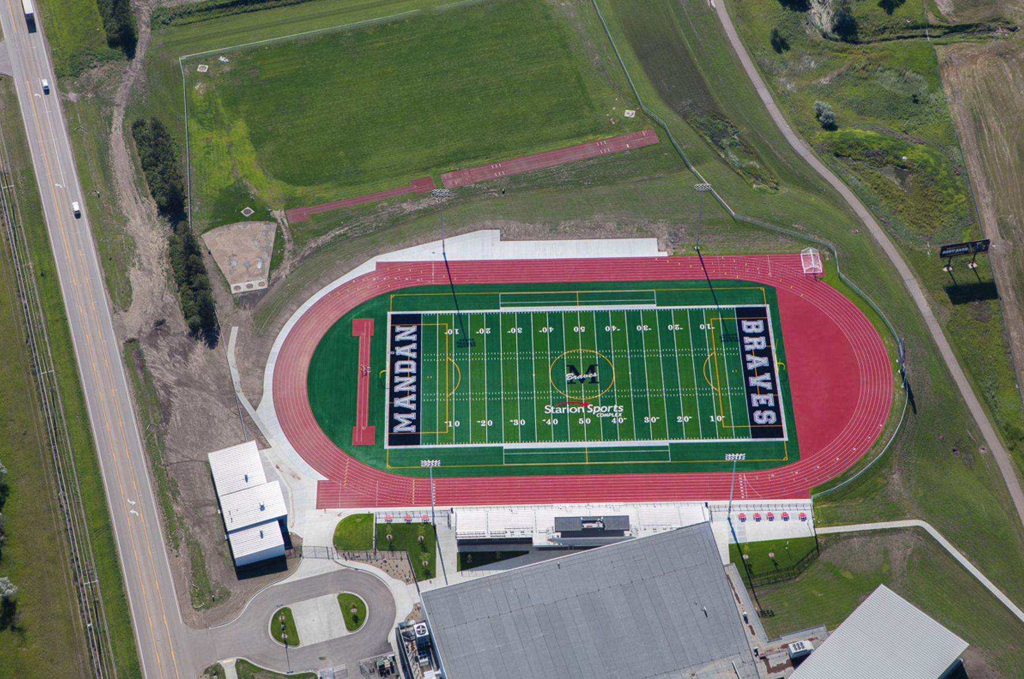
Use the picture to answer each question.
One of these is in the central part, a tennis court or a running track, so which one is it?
running track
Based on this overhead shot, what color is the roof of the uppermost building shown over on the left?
white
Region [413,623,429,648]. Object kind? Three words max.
cooling tower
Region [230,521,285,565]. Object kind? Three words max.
building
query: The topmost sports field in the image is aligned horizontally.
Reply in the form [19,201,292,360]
[184,0,661,226]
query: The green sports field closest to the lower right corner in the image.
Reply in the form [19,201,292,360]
[307,278,799,478]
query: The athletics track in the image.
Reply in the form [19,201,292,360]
[272,253,893,509]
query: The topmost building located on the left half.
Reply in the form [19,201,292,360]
[208,441,267,503]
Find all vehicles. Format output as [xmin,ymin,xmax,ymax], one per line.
[22,0,35,21]
[71,202,80,216]
[41,80,49,91]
